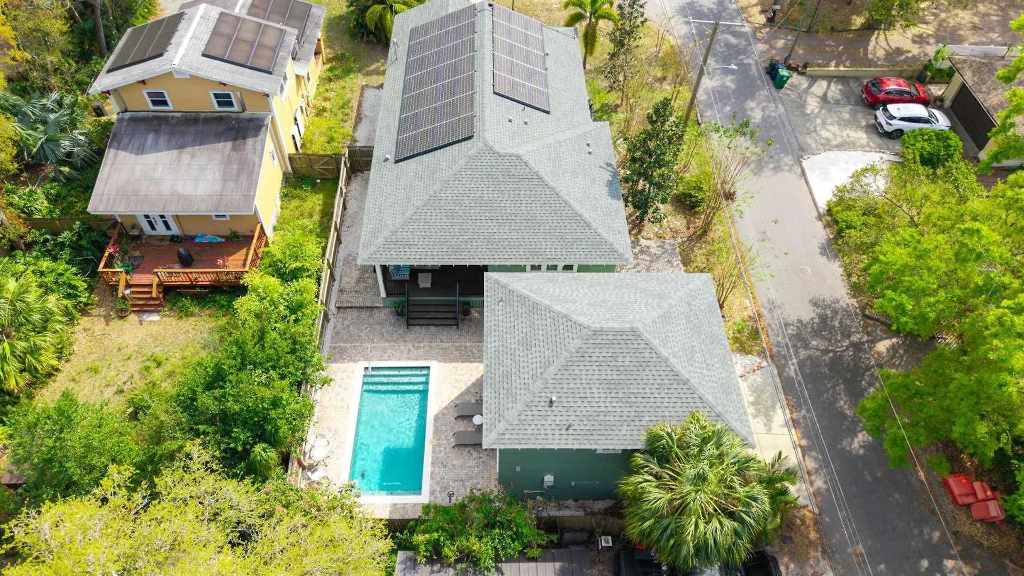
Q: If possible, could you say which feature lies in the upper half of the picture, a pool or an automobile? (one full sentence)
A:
It is an automobile that can be seen in the upper half of the picture.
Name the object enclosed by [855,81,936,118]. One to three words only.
car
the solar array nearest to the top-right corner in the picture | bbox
[493,3,552,114]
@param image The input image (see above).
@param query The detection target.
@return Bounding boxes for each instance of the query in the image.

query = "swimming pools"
[337,361,437,502]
